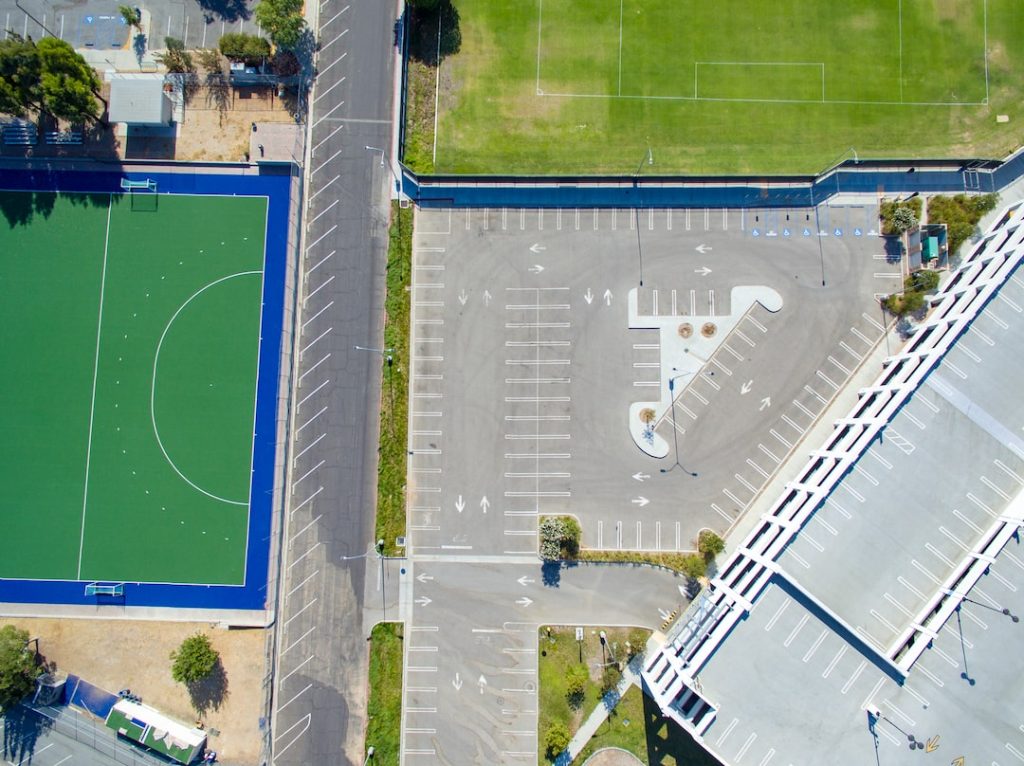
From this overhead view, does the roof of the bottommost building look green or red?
green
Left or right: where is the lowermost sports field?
left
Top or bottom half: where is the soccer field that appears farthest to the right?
top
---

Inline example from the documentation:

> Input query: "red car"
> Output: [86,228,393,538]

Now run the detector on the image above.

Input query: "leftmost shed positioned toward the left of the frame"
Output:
[23,668,69,711]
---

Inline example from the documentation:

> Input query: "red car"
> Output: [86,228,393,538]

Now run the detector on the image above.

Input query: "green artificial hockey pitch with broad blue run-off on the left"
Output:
[0,170,290,608]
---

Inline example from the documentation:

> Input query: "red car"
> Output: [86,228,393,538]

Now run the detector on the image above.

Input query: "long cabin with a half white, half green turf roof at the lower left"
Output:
[104,700,210,766]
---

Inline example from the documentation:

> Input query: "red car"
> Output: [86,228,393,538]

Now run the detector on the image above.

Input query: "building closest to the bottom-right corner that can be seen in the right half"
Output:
[642,204,1024,766]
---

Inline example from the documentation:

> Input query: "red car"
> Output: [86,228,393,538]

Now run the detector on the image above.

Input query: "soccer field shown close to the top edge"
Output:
[426,0,1024,182]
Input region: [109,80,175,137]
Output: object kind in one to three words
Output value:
shed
